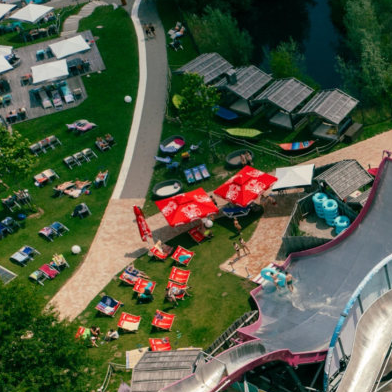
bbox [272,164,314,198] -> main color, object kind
white umbrella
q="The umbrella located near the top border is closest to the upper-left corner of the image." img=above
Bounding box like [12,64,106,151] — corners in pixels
[0,2,18,35]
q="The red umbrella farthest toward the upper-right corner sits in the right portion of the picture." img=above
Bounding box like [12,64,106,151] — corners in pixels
[214,166,276,215]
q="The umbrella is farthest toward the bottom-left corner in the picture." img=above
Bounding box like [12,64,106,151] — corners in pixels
[123,210,154,255]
